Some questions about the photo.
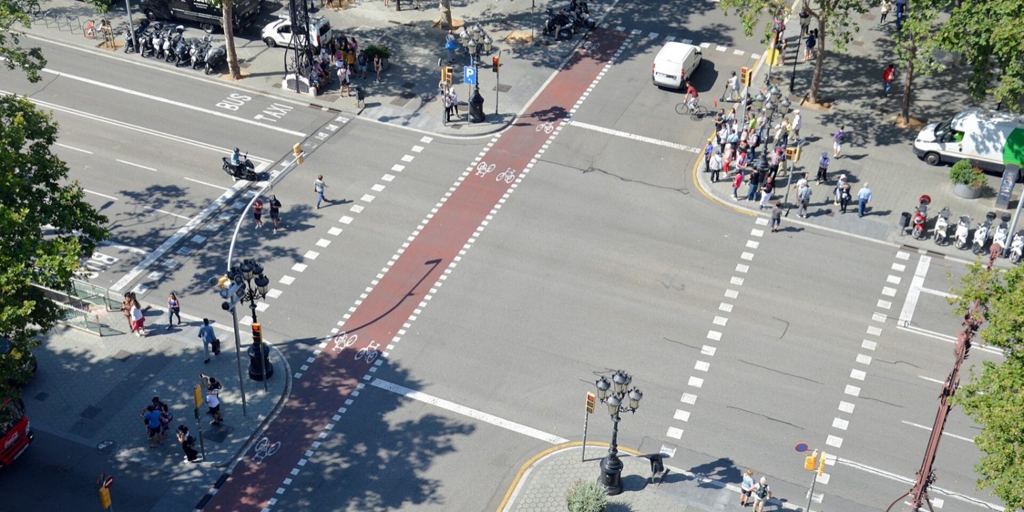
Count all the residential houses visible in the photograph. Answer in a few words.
zero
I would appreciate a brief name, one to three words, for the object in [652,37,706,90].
van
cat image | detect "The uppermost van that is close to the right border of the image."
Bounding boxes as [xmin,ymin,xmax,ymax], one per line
[909,106,1024,183]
